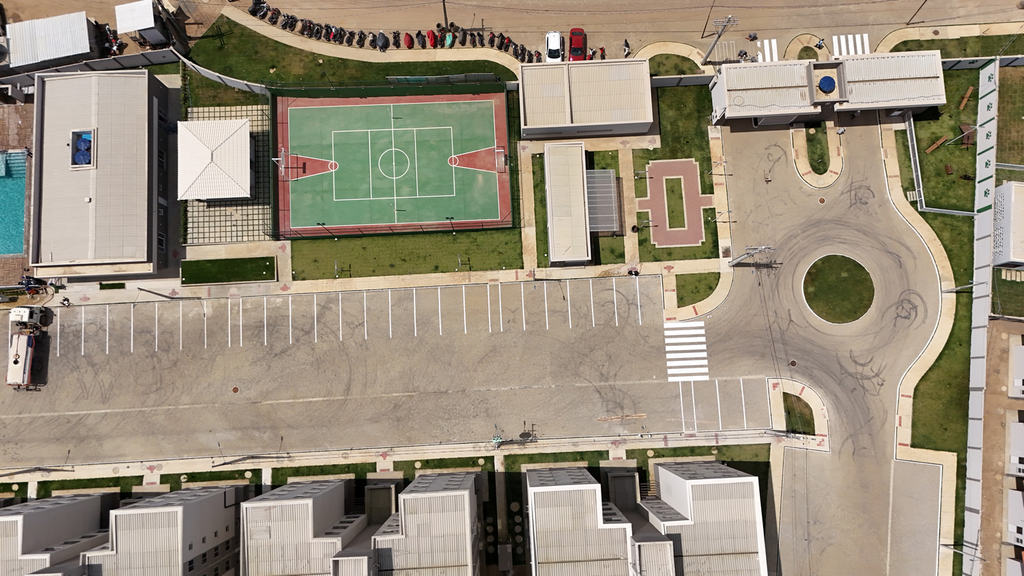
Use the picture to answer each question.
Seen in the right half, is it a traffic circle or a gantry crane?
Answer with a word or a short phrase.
traffic circle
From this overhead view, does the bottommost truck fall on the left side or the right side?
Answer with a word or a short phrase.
left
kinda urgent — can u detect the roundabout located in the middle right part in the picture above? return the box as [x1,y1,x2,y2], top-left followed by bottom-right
[803,254,876,326]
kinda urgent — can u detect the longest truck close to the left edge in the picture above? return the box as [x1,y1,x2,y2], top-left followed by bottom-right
[1,306,47,395]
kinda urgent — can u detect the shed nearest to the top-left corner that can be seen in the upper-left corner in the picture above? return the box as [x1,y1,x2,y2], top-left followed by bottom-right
[6,11,101,67]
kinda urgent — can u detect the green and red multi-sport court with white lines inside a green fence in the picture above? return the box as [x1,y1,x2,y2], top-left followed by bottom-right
[276,91,512,236]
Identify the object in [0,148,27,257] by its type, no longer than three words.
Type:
swimming pool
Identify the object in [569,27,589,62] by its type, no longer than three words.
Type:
car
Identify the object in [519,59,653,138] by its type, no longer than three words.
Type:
building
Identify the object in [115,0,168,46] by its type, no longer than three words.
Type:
shed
